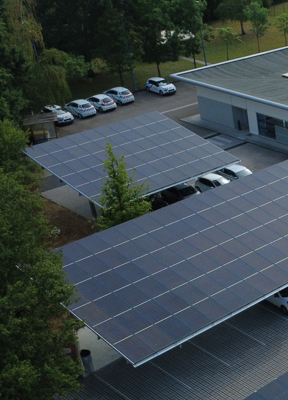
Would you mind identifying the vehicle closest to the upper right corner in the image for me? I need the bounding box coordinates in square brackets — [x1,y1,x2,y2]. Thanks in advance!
[145,77,176,96]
